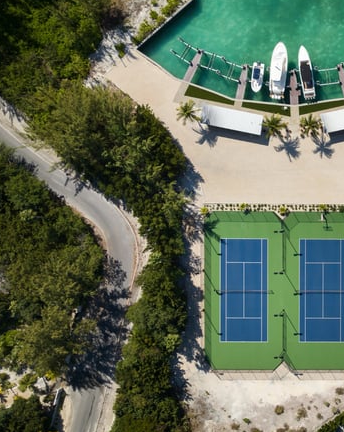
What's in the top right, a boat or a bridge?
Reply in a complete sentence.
Looking in the top right, you will find a boat.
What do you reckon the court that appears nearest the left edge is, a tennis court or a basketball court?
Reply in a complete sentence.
It turns out the court that appears nearest the left edge is a tennis court.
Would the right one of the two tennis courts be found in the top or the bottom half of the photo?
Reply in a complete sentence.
It is in the bottom half that the right one of the two tennis courts appears.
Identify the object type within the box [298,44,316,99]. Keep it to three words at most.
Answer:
boat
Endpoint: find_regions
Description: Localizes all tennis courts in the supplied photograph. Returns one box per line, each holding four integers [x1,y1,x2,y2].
[204,212,284,370]
[284,212,344,370]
